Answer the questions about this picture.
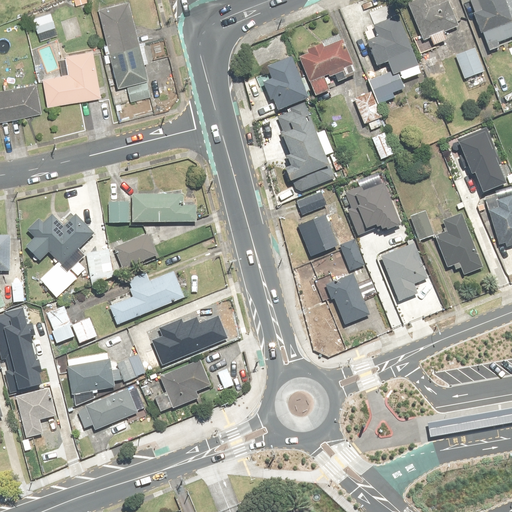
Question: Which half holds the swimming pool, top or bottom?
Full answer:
It is in the top half that the swimming pool appears.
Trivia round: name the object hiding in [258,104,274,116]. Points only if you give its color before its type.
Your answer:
white vehicle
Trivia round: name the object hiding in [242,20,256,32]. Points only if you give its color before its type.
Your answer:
white vehicle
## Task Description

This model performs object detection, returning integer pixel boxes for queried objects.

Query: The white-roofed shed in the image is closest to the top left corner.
[33,13,58,41]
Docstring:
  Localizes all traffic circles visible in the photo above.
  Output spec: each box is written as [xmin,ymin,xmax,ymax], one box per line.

[274,377,329,432]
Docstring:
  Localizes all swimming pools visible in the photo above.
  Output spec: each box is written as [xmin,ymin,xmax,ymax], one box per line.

[38,44,60,74]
